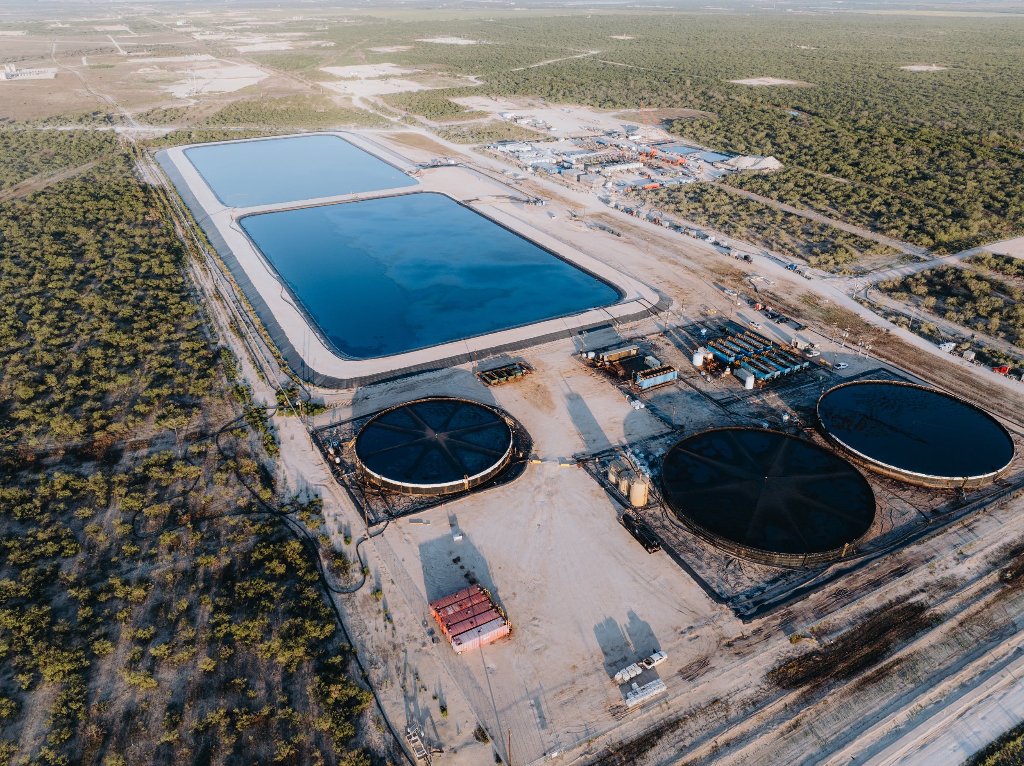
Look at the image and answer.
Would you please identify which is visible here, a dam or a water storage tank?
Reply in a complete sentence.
The image shows a water storage tank.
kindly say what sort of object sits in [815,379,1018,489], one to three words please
water tank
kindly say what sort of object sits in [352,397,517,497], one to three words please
water tank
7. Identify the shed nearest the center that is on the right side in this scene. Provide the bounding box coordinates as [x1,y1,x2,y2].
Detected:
[599,342,642,361]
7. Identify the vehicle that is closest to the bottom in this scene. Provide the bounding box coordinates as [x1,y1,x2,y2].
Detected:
[642,651,668,668]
